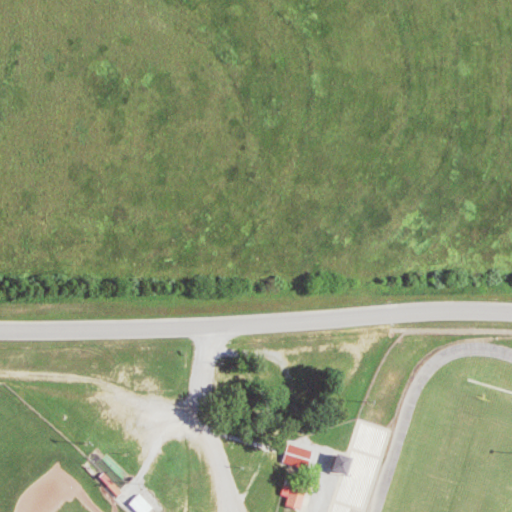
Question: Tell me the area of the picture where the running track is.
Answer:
bottom right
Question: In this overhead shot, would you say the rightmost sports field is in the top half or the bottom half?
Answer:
bottom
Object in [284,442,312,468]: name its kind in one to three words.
building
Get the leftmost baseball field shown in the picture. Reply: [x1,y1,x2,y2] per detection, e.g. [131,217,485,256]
[0,384,118,512]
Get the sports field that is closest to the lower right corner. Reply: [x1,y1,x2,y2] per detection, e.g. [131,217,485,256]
[382,356,512,512]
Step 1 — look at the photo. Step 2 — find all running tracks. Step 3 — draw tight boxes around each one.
[368,342,512,512]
